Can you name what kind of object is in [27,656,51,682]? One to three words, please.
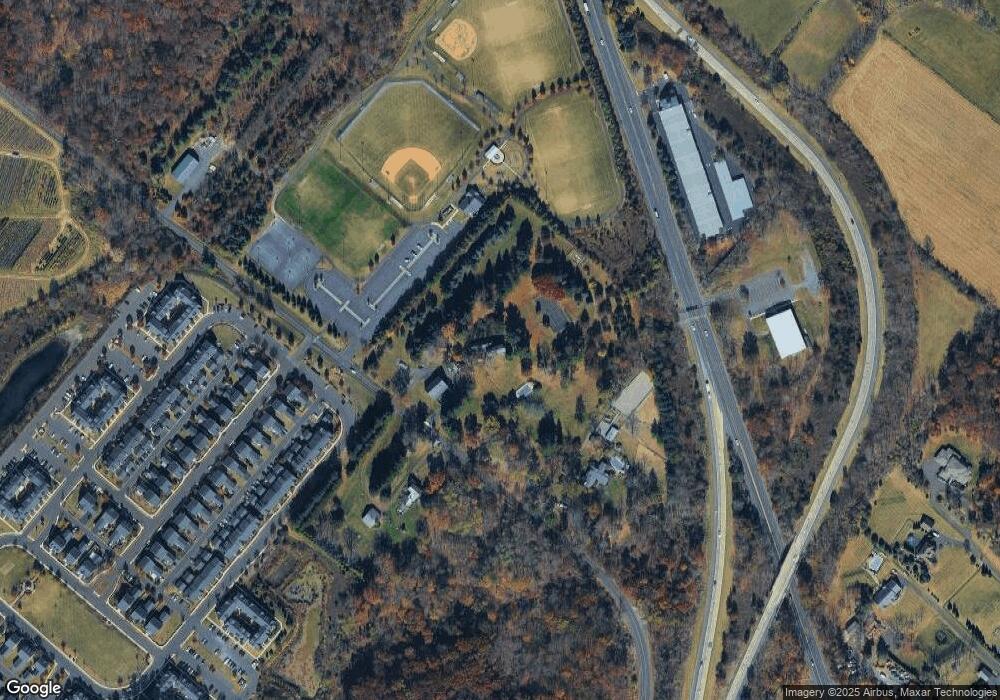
house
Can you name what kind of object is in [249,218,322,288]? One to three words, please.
basketball court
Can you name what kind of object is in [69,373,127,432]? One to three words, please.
building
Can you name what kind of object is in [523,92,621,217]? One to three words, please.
soccer field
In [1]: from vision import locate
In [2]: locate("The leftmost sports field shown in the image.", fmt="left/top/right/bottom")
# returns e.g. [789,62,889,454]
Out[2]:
[274,145,402,276]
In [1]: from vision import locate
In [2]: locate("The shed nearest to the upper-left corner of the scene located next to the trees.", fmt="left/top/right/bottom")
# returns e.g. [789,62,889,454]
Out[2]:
[170,151,202,185]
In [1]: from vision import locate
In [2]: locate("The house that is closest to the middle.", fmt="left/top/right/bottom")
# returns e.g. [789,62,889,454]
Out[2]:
[471,334,505,353]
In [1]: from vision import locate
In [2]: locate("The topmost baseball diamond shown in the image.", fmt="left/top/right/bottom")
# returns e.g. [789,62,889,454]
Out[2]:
[436,0,582,112]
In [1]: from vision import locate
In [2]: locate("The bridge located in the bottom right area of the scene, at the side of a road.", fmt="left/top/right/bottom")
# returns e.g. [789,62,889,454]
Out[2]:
[760,518,812,627]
